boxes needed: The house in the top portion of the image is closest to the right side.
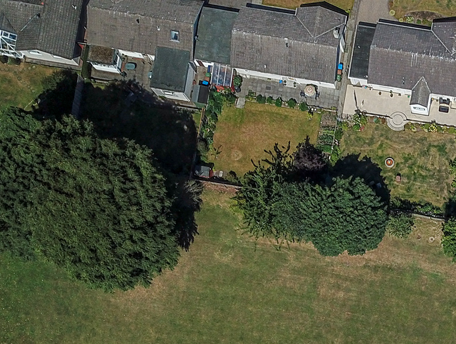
[367,17,456,112]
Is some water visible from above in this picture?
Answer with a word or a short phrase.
No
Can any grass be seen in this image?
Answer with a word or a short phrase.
Yes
